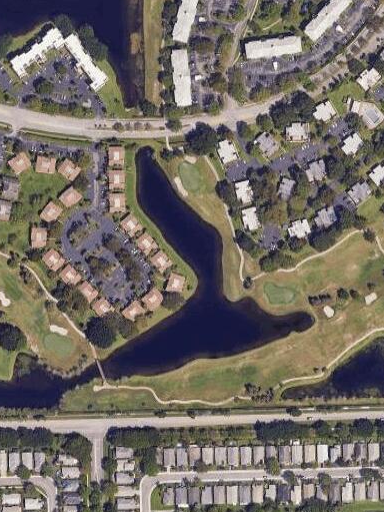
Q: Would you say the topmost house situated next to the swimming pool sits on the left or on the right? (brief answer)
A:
right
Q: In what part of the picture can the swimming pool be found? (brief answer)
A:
top right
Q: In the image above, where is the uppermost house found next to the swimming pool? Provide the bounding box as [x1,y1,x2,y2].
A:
[357,69,382,92]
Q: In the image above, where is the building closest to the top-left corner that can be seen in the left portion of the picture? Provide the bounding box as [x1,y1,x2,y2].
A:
[9,28,64,77]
